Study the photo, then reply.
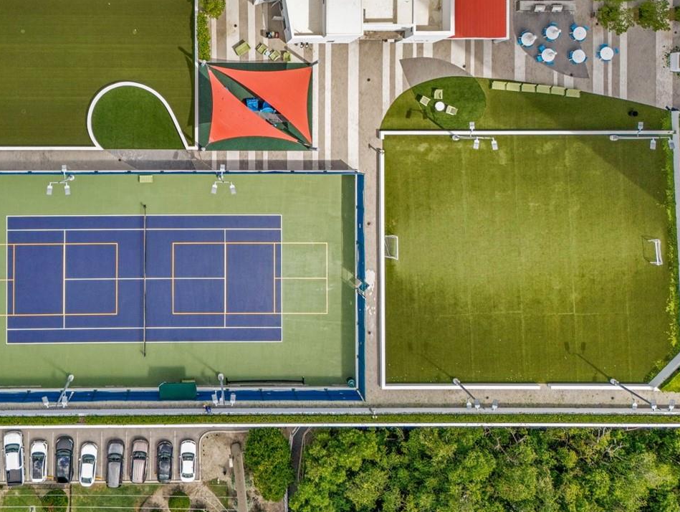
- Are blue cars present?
No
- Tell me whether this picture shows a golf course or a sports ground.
sports ground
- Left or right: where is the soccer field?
right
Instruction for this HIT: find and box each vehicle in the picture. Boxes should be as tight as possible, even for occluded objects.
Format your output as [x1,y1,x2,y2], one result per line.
[52,434,74,485]
[178,438,198,483]
[129,438,150,484]
[77,441,97,487]
[27,438,48,484]
[155,439,175,484]
[2,430,26,486]
[103,439,127,487]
